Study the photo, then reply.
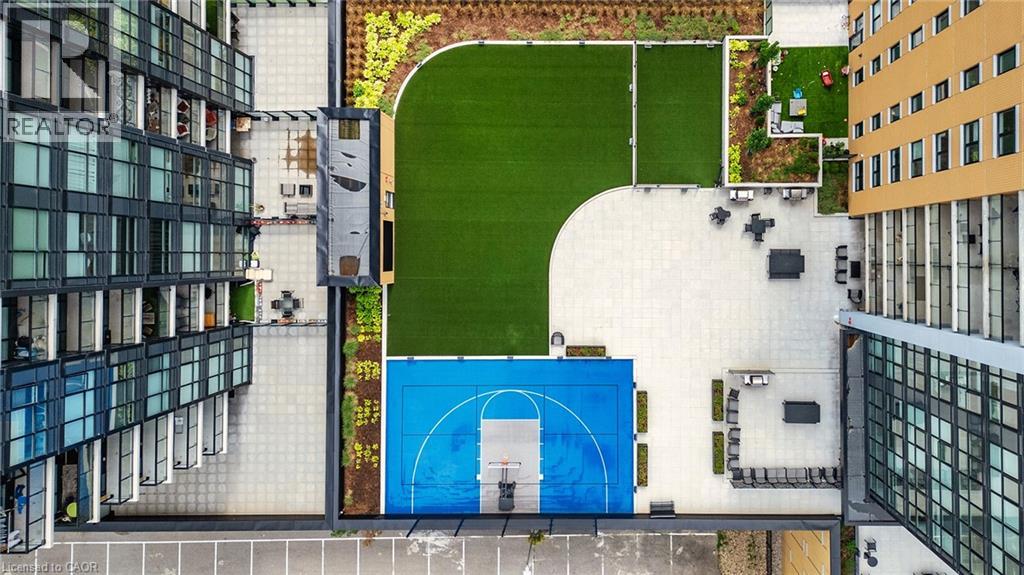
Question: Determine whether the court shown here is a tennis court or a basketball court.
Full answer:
From above, the court can be identified as a basketball court.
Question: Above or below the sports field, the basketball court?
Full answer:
In the image, the basketball court sits below the sports field.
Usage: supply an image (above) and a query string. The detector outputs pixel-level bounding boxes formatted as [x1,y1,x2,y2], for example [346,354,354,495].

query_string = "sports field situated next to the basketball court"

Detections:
[388,39,633,356]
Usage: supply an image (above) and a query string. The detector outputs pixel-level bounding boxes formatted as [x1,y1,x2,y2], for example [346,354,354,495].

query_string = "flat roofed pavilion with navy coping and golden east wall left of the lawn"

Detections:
[318,109,394,286]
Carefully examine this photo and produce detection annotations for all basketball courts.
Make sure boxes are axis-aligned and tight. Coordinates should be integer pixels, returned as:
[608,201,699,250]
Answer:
[386,361,634,515]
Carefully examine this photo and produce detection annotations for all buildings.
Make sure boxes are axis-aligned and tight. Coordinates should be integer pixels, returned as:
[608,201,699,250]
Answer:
[833,0,1024,575]
[0,0,254,559]
[318,109,394,286]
